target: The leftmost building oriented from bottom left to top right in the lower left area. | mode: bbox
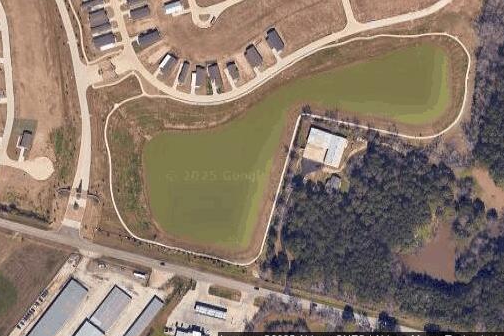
[26,277,87,336]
